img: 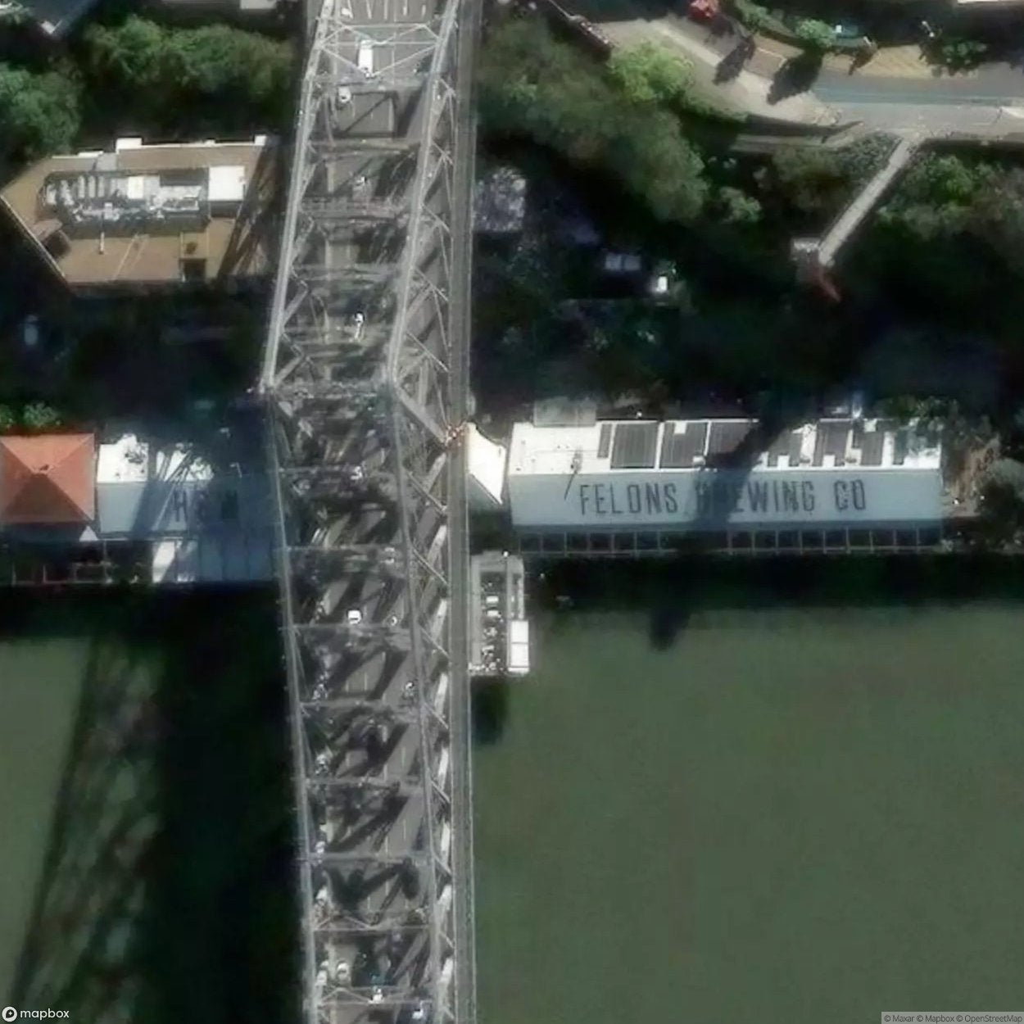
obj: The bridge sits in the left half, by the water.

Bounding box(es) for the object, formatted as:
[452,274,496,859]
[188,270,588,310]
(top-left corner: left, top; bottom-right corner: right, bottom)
[258,0,483,1024]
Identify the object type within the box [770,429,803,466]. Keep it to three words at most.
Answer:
solar panel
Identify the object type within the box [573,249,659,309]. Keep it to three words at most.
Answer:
building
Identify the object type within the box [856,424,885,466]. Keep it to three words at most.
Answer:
solar panel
